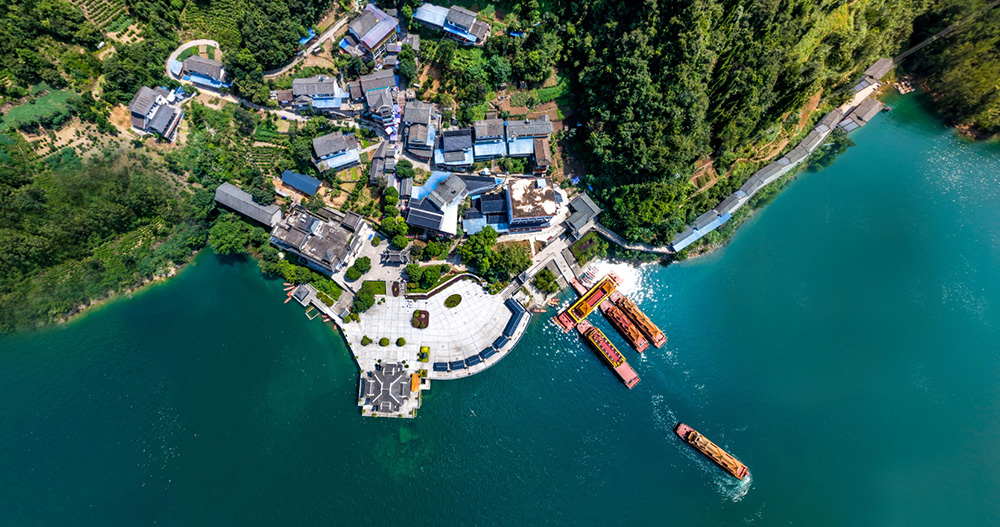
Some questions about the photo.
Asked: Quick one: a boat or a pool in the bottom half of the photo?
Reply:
boat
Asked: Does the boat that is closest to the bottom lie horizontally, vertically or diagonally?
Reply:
diagonally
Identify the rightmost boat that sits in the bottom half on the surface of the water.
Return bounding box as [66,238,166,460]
[674,426,749,480]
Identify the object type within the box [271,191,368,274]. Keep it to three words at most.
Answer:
building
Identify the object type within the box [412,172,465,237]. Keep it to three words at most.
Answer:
building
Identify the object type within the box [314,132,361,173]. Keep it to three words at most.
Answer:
house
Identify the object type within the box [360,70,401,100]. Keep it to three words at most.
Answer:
house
